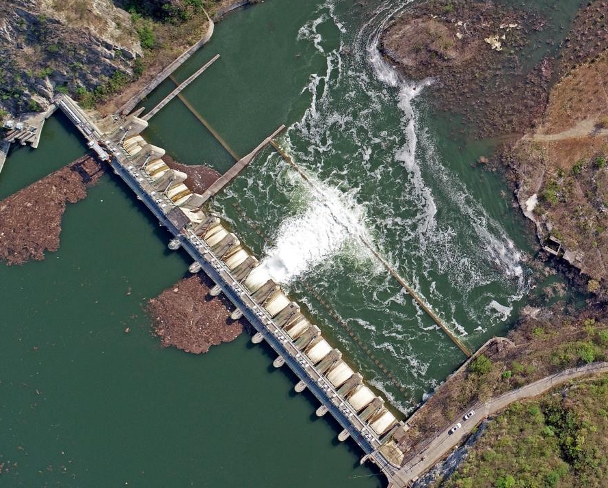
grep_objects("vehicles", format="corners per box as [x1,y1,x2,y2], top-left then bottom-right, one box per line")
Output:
[463,411,475,420]
[451,422,463,433]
